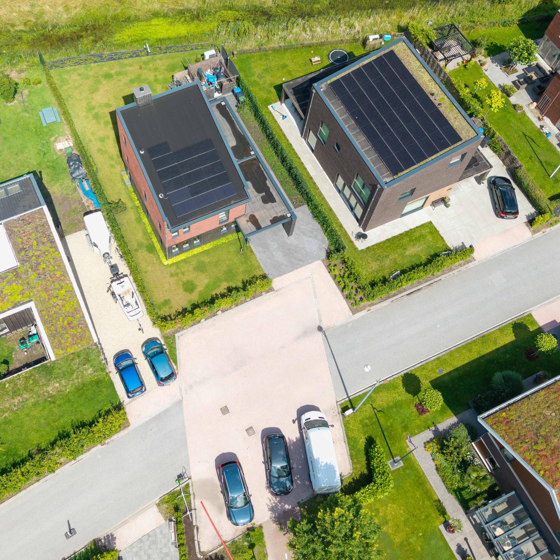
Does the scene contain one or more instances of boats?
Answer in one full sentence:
Yes, a boat appears in the view.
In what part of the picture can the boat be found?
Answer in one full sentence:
The boat sits in the left section of the image.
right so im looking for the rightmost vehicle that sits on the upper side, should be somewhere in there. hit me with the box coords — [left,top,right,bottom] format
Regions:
[489,178,522,221]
